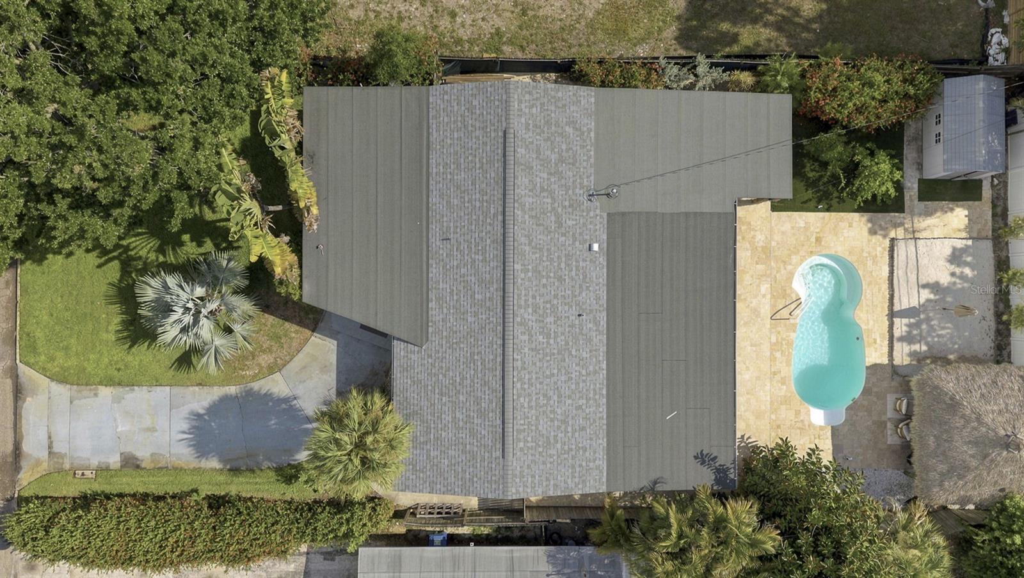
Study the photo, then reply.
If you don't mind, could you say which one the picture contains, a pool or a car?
pool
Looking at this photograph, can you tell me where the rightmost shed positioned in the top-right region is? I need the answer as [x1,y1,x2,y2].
[924,77,1004,179]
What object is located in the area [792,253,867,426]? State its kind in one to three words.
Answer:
swimming pool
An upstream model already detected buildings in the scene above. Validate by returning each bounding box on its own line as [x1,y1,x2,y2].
[911,366,1024,508]
[924,77,1004,179]
[302,80,792,499]
[357,536,627,578]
